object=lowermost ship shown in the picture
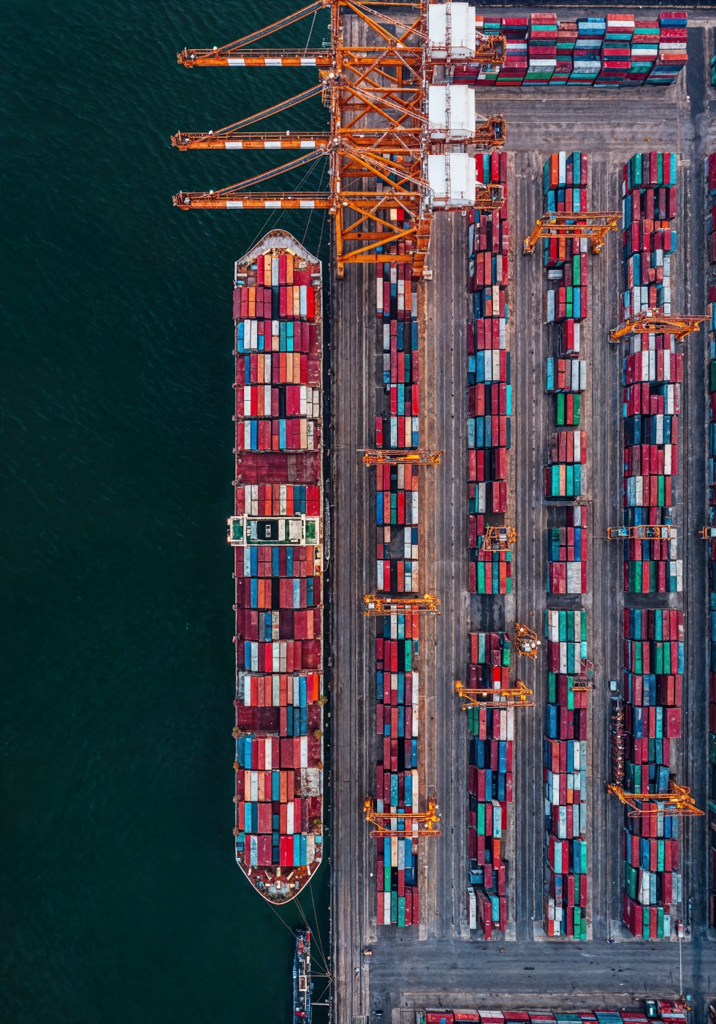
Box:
[292,923,313,1024]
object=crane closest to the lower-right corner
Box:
[611,768,707,818]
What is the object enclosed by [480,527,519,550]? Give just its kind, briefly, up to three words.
crane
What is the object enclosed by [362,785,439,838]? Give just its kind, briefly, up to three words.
crane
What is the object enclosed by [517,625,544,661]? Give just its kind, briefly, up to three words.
work vehicle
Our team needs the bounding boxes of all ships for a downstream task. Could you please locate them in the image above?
[292,923,313,1024]
[226,229,327,904]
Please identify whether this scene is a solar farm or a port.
port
